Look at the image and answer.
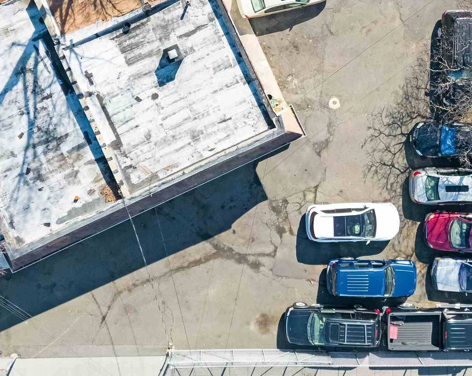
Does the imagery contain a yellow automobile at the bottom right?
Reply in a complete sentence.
No, at the bottom right there is no yellow automobile.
